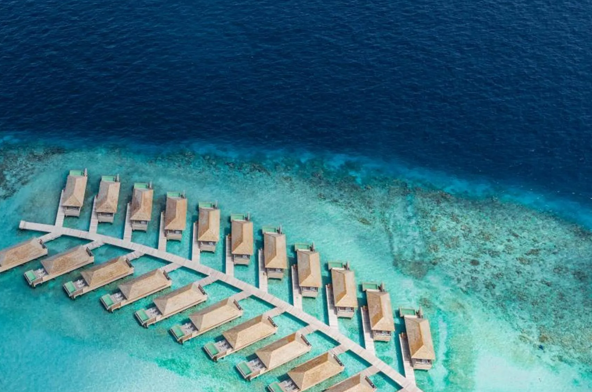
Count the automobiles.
none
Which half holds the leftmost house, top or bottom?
bottom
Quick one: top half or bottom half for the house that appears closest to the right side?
bottom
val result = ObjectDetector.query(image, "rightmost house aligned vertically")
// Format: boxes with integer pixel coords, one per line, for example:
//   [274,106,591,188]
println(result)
[398,309,435,372]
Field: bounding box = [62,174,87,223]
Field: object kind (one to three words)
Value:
house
